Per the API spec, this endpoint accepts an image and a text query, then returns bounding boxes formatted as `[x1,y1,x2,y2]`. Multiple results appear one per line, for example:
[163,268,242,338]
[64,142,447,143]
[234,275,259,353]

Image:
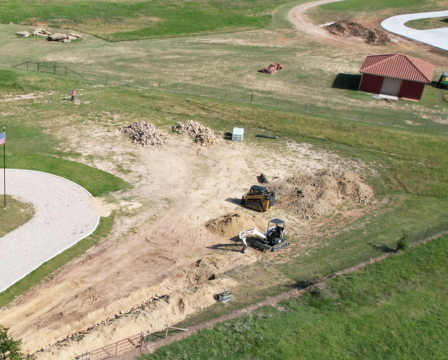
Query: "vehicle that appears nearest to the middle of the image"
[230,184,280,212]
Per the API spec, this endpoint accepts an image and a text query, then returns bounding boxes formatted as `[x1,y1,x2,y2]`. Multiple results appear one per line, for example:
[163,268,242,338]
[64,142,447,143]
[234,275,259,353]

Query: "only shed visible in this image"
[358,52,434,100]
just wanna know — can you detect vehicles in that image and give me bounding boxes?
[438,71,448,88]
[239,217,293,255]
[230,184,280,212]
